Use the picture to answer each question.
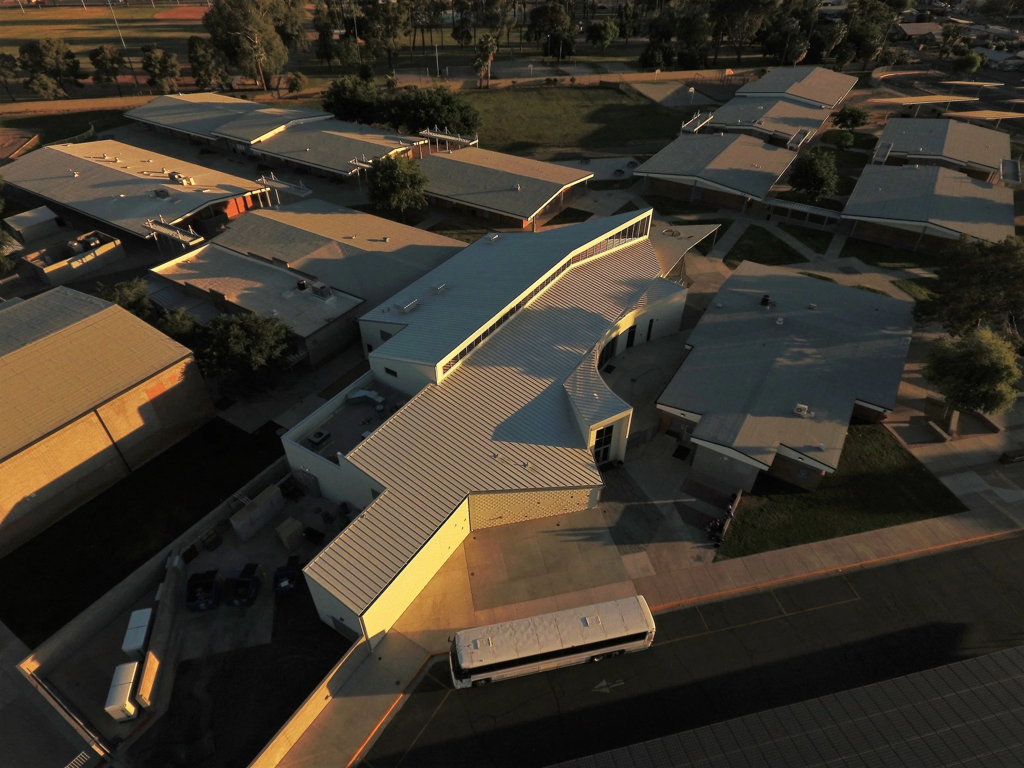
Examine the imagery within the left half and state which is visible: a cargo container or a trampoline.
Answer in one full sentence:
There is a cargo container within the left half.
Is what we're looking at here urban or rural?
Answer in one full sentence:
It looks urban.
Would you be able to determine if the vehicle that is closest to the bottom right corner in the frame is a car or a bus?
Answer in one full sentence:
It turns out the vehicle that is closest to the bottom right corner is a bus.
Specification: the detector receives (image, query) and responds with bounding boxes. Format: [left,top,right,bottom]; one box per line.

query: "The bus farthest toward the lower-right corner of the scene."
[449,601,656,691]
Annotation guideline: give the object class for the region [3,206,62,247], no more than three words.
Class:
shed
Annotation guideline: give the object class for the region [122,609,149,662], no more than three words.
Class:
shipping container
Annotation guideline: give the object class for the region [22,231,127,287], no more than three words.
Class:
building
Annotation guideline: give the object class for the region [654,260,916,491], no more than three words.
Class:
building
